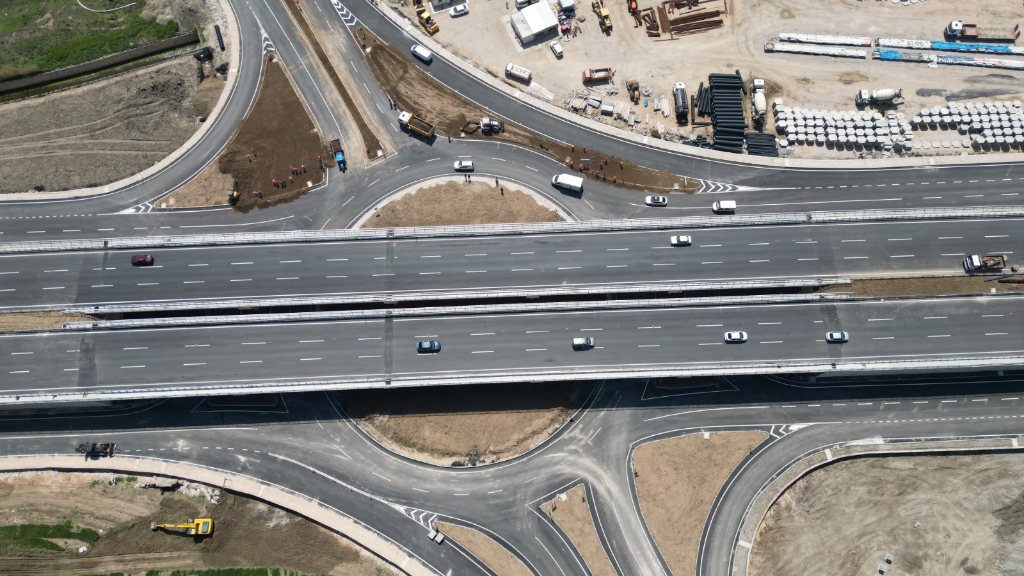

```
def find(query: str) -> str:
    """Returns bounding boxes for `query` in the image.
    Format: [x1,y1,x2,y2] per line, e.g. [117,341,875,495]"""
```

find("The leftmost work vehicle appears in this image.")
[76,443,123,457]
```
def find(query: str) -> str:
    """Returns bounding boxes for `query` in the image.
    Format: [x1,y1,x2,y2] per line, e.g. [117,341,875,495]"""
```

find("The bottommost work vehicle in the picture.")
[155,517,214,537]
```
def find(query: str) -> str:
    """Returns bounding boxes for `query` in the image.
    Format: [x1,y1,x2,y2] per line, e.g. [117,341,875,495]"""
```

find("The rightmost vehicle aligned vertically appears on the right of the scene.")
[751,84,767,123]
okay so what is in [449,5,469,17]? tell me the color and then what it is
white vehicle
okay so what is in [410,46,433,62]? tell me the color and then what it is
white vehicle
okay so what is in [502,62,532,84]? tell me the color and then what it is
white truck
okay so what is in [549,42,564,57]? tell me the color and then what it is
white car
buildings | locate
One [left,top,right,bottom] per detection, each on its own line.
[430,0,469,13]
[506,0,561,54]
